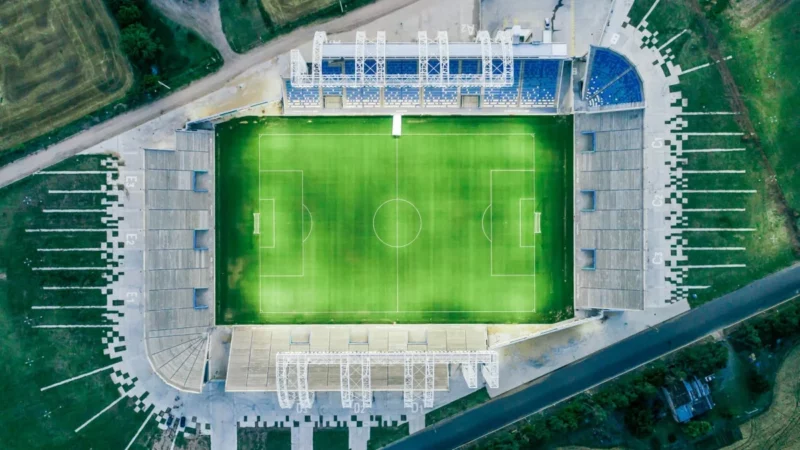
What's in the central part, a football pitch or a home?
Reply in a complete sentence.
The feature located in the central part is a football pitch.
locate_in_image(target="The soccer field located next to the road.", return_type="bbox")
[216,114,574,324]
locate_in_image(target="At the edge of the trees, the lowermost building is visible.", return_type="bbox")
[662,376,714,423]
